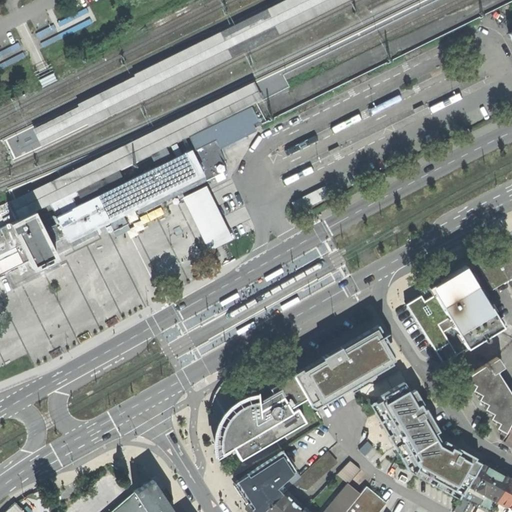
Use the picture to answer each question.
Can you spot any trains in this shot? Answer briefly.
Yes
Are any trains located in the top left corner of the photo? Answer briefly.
No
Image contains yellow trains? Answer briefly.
No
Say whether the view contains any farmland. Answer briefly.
No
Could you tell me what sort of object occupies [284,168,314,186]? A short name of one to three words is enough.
vehicle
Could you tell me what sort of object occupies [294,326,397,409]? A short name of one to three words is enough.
building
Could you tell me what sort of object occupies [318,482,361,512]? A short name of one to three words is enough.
house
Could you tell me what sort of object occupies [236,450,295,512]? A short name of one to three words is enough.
building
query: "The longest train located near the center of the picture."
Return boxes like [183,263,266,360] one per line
[231,266,322,316]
